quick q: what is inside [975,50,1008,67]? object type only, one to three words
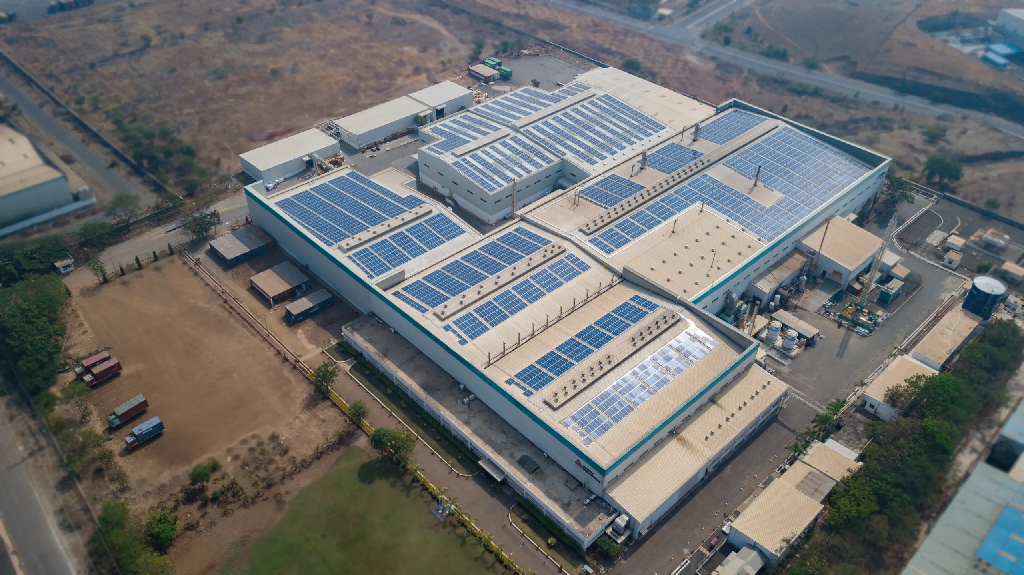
building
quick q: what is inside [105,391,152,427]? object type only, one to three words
truck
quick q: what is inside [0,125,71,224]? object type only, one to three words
building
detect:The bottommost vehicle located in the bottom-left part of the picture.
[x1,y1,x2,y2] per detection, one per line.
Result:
[123,415,166,450]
